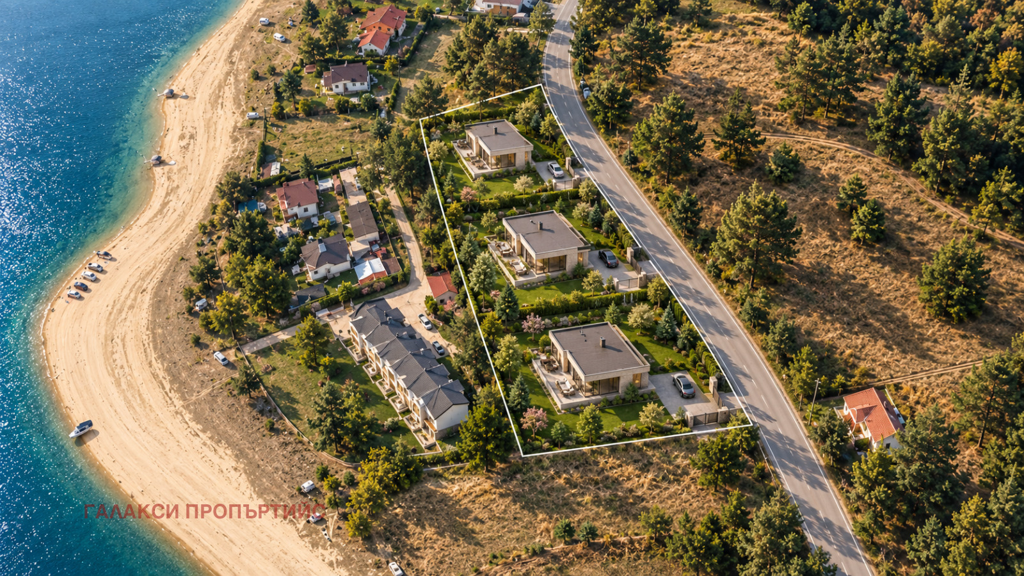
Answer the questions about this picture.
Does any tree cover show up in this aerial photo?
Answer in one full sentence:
Yes, tree cover can be seen from above here.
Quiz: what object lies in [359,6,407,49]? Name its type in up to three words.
house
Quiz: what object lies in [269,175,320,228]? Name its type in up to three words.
house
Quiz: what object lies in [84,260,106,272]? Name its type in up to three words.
vehicle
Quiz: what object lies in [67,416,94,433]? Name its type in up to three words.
boat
